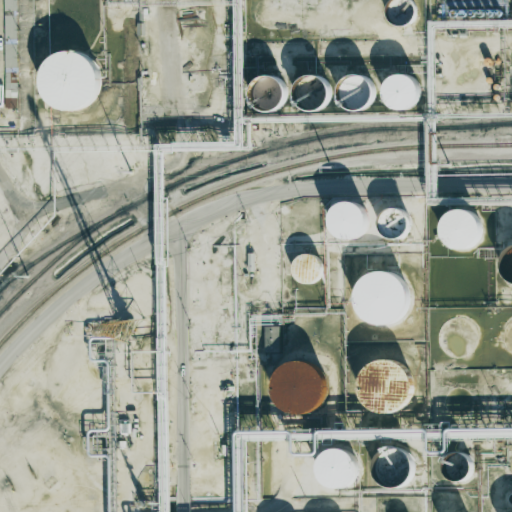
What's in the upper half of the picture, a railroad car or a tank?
tank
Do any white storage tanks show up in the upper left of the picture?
Yes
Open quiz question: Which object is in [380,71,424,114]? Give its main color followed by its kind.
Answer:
white storage tank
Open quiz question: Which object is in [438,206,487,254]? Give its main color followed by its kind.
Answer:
white storage tank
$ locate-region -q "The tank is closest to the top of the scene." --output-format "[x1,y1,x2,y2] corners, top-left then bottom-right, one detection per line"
[384,0,420,30]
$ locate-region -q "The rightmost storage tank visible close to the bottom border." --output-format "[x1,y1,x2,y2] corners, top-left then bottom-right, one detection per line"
[439,450,477,486]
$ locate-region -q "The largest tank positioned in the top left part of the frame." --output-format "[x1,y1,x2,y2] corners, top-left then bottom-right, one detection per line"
[37,48,104,114]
